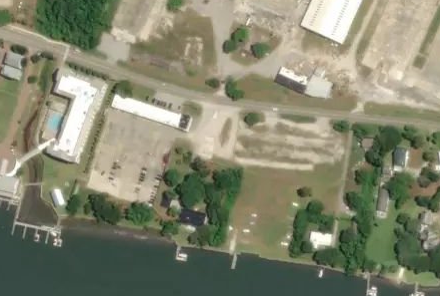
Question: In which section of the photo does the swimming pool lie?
left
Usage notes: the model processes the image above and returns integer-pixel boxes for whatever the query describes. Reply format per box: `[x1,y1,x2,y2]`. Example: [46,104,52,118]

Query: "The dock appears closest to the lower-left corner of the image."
[0,195,61,243]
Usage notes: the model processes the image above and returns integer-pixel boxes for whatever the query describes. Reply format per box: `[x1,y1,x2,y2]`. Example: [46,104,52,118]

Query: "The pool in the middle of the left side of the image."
[42,109,66,142]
